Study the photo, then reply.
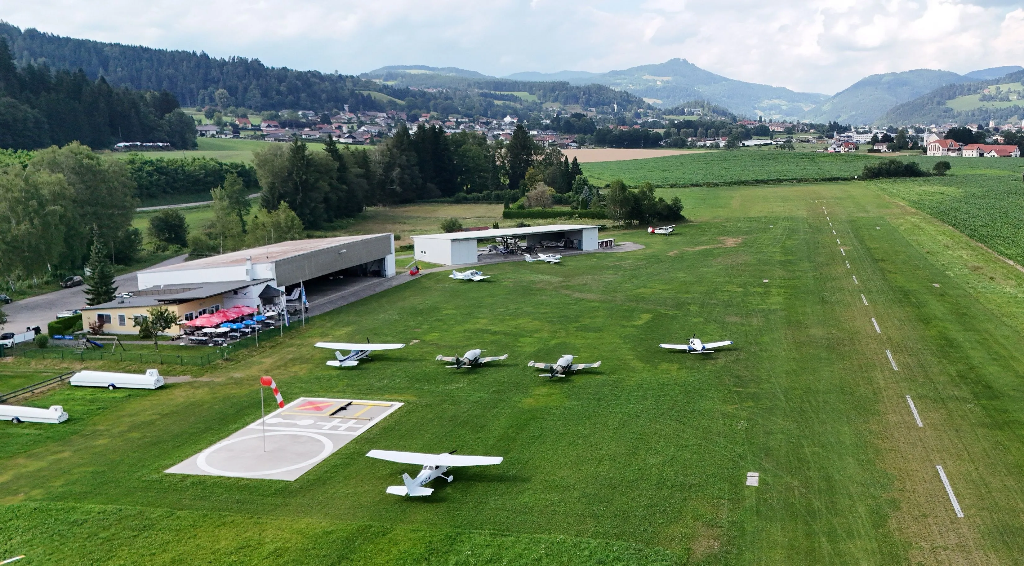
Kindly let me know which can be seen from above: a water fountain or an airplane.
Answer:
airplane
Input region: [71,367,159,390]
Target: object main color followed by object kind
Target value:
white trailer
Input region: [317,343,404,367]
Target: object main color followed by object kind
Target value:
white airplane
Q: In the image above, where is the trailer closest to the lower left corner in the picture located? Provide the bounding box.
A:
[0,398,72,425]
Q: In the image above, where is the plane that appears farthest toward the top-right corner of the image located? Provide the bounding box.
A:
[648,223,678,235]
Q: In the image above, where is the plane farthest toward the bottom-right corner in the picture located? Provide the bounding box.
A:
[661,335,732,354]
